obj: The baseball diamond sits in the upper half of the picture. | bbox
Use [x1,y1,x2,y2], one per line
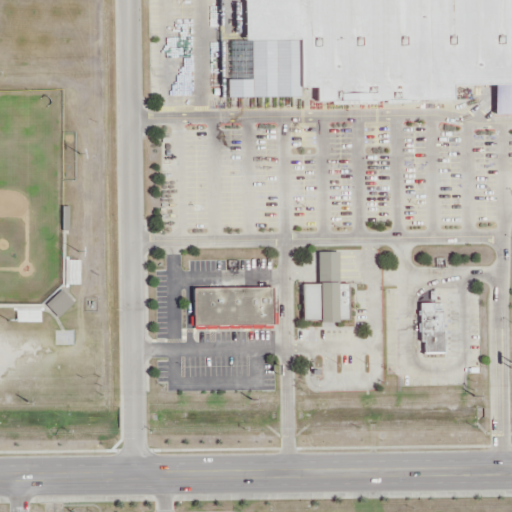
[0,90,62,303]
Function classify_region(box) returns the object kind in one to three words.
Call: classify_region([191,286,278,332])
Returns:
building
